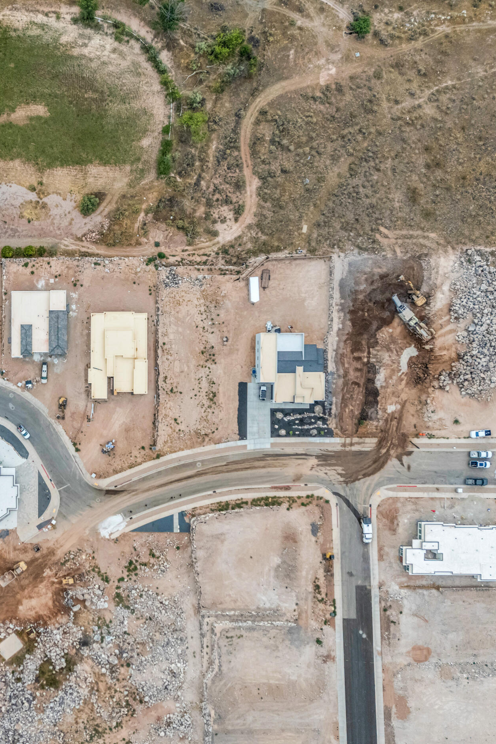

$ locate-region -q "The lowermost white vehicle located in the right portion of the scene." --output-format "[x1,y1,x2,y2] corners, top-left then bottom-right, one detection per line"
[360,517,373,544]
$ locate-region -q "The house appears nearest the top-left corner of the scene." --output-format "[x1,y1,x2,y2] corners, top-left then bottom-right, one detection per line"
[12,290,68,359]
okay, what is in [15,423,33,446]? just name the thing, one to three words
vehicle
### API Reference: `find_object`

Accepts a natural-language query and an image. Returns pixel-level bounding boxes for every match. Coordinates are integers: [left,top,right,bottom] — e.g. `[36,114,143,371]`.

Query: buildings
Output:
[254,333,325,404]
[0,466,20,519]
[87,312,148,399]
[399,520,496,580]
[12,290,68,359]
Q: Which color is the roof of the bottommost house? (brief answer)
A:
white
